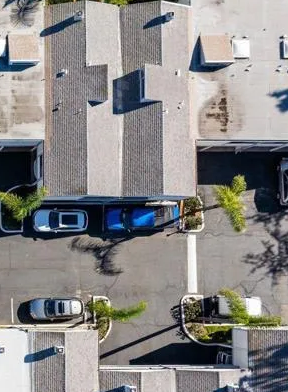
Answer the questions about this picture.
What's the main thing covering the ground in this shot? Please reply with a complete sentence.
For the most part, this view shows buildings.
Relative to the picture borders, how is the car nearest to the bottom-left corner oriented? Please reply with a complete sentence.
I'd say the car nearest to the bottom-left corner is aligned from left to right in the picture.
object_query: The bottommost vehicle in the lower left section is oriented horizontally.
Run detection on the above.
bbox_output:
[25,296,85,322]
